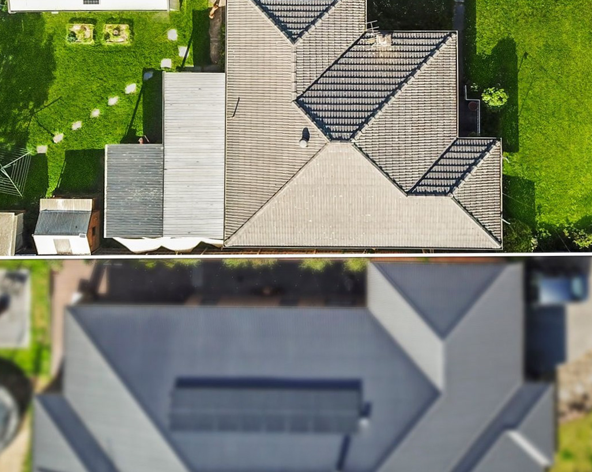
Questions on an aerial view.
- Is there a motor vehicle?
Yes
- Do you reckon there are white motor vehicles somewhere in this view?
No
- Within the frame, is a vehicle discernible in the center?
No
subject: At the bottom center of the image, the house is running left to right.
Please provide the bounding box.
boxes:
[31,257,556,472]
